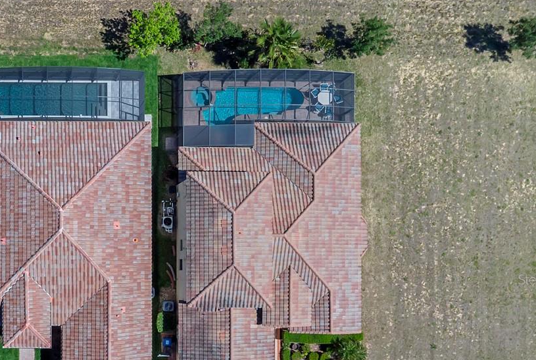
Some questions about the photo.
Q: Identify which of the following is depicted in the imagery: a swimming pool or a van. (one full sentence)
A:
I can see a swimming pool in this picture.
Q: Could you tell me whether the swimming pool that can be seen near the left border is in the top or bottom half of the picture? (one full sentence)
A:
The swimming pool that can be seen near the left border is in the top half of the image.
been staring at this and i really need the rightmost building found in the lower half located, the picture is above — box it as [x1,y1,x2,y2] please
[174,122,367,360]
